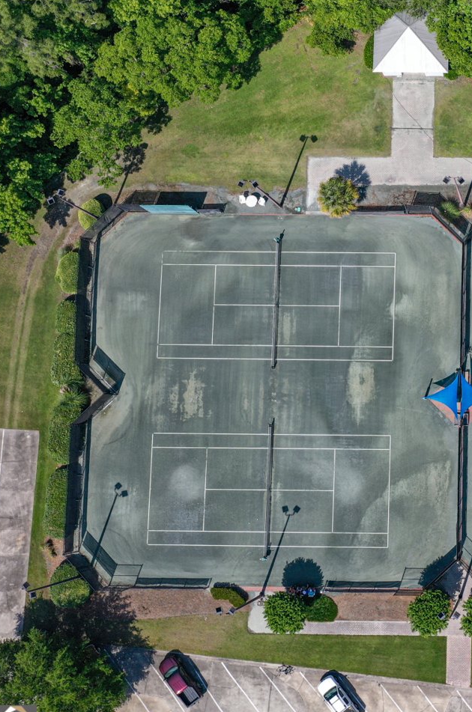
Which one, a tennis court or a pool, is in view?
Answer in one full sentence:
Looking from above, you can make out a tennis court.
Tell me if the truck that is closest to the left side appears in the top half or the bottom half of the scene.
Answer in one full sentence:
It is in the bottom half that the truck that is closest to the left side appears.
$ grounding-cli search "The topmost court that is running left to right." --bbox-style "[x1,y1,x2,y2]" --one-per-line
[90,213,465,398]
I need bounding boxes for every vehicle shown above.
[316,671,361,712]
[159,653,205,711]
